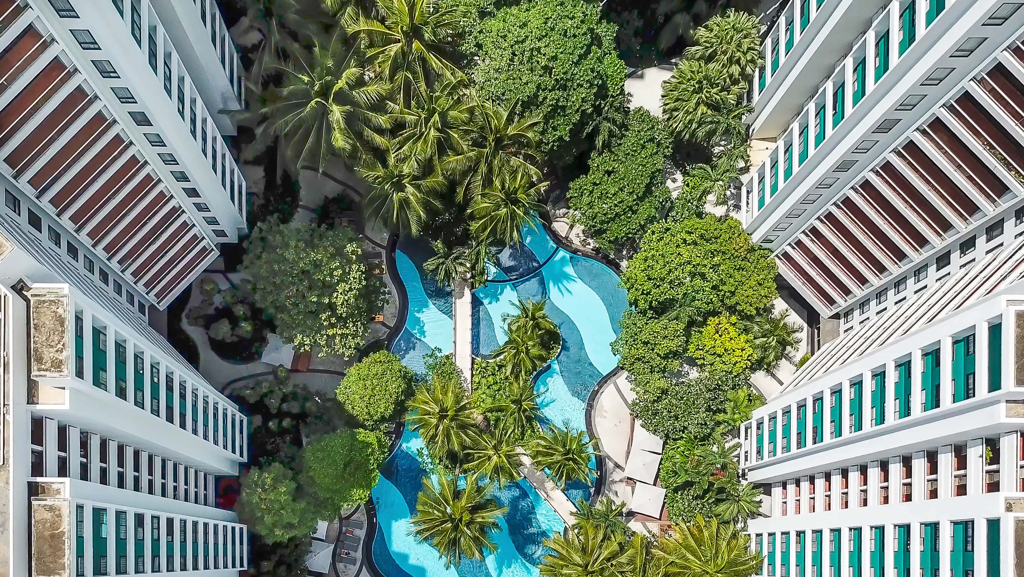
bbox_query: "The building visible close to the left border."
[0,0,247,577]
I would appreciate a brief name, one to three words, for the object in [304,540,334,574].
umbrella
